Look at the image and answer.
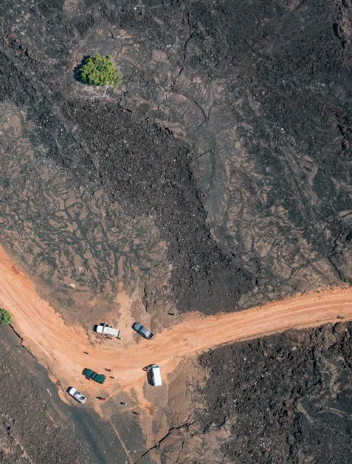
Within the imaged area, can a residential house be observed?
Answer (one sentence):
No, there isn't any residential house down there.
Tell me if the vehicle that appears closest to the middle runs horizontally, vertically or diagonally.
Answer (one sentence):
The vehicle that appears closest to the middle is oriented diagonally.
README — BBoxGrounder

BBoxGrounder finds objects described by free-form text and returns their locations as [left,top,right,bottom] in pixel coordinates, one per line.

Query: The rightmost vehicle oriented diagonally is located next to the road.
[133,321,156,340]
